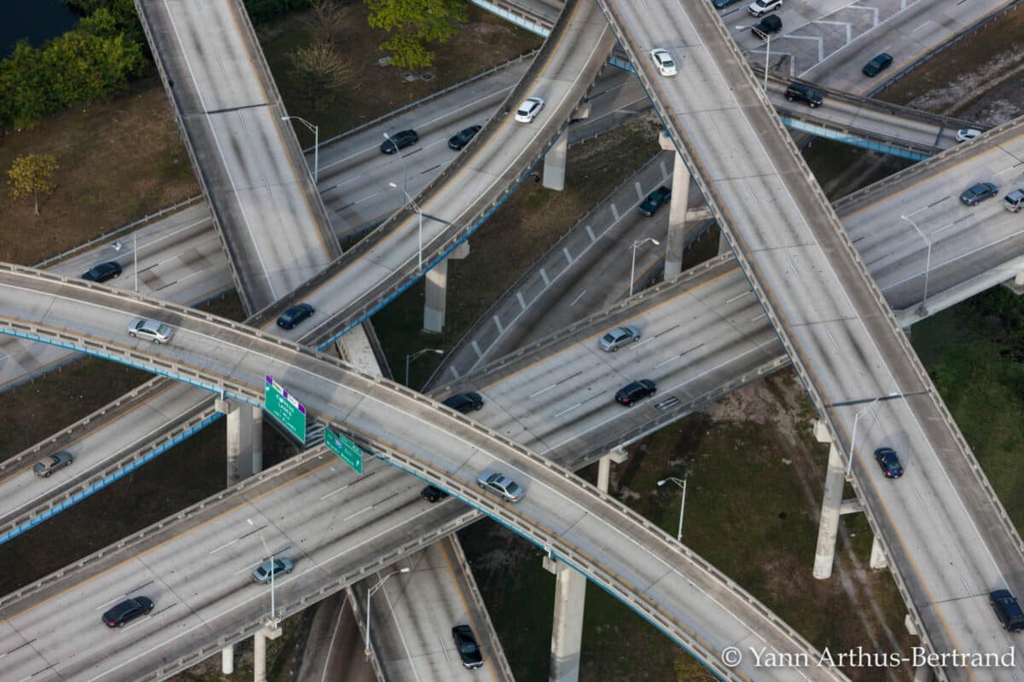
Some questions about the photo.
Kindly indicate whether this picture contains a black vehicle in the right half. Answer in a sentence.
Yes, the scene does show a black vehicle in the right half.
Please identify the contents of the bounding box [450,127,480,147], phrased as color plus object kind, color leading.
black car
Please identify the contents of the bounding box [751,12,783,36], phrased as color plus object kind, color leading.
black car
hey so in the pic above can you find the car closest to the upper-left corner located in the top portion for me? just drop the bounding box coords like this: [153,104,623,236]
[83,261,120,282]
